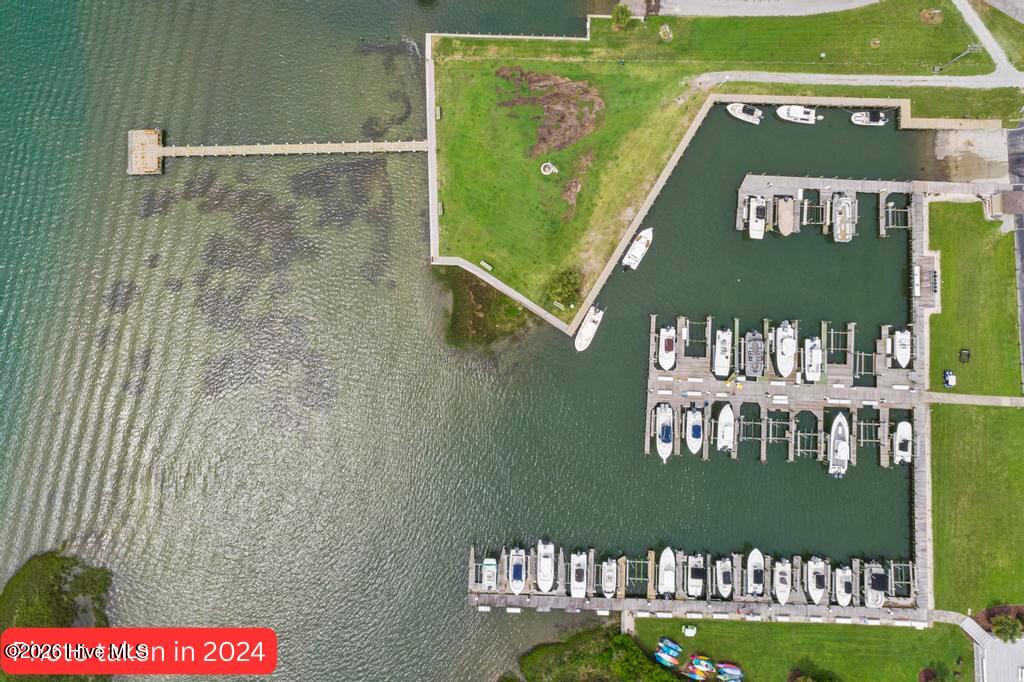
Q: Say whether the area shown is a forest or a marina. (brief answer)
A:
marina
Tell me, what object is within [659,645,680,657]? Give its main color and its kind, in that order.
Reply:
blue boat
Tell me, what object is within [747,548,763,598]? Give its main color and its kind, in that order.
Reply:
white boat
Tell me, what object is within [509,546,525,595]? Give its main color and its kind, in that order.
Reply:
white boat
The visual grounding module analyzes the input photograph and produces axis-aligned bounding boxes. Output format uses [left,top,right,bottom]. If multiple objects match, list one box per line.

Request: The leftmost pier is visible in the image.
[124,126,428,178]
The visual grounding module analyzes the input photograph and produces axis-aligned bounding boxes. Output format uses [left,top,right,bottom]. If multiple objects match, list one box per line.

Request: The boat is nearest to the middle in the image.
[576,301,606,350]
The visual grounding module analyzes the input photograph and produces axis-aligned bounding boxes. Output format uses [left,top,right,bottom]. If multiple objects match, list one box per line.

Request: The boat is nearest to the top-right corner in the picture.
[847,112,890,125]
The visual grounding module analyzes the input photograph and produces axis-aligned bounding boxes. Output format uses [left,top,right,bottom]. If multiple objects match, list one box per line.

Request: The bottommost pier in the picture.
[469,543,928,625]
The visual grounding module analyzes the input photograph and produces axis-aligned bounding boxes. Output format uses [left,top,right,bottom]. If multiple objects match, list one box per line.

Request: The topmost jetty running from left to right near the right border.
[732,173,1010,239]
